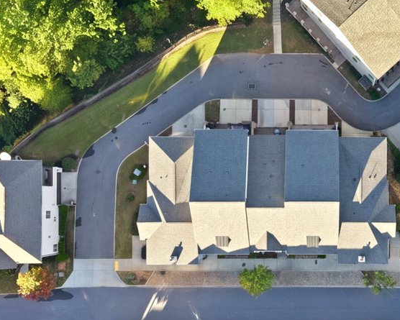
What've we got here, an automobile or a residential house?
residential house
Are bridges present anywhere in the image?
No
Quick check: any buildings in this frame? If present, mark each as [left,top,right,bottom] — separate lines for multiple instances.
[0,159,72,269]
[302,0,400,90]
[136,118,396,264]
